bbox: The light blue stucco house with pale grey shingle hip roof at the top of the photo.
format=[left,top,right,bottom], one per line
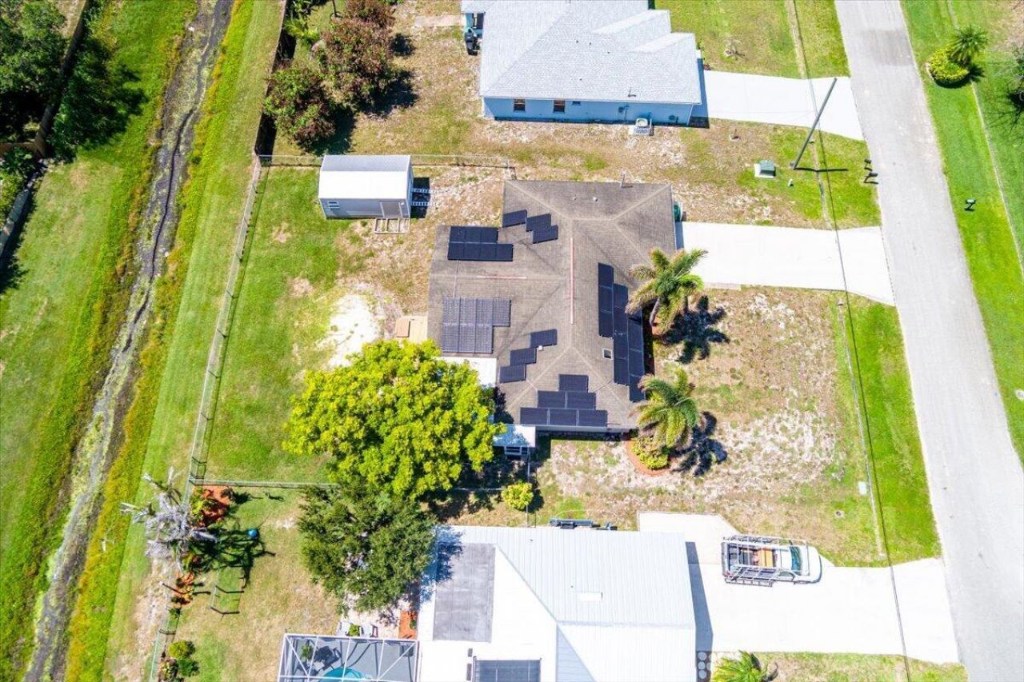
[461,0,701,125]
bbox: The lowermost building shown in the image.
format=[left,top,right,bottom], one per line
[413,525,699,682]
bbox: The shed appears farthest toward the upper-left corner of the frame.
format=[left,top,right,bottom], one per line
[317,154,415,220]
